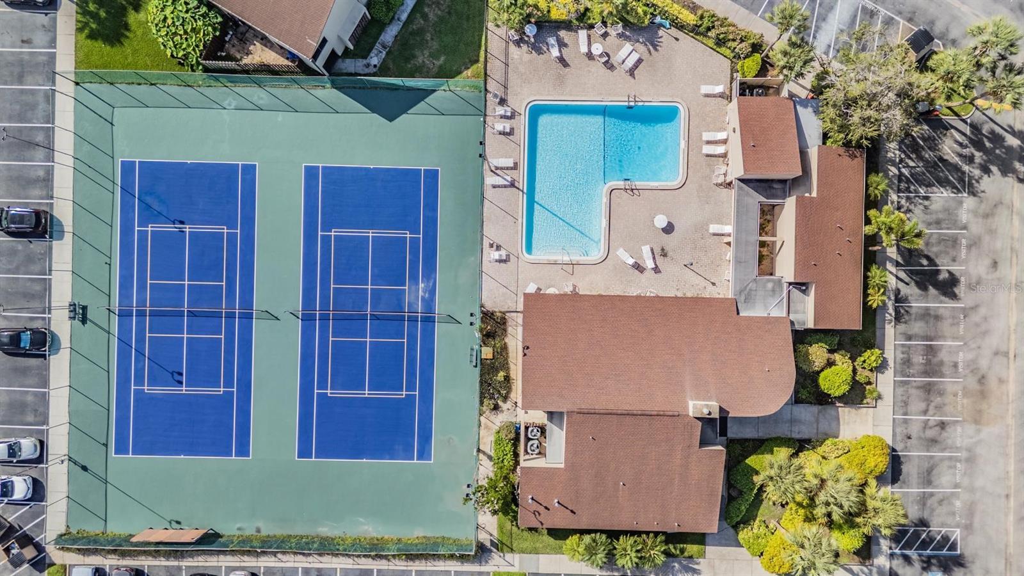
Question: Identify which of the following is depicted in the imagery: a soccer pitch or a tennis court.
tennis court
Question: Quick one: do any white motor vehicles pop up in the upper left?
No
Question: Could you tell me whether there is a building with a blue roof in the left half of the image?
No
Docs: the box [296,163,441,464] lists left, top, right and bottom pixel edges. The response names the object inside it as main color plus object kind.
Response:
blue tennis court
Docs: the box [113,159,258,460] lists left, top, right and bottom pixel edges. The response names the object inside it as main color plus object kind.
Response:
blue tennis court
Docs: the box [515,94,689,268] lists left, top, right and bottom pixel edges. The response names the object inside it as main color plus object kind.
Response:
blue swimming pool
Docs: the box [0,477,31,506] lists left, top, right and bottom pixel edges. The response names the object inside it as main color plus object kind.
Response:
white car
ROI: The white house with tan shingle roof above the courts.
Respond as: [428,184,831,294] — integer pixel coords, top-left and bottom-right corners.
[205,0,379,76]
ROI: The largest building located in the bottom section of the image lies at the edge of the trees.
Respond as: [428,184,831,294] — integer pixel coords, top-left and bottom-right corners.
[518,294,796,532]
